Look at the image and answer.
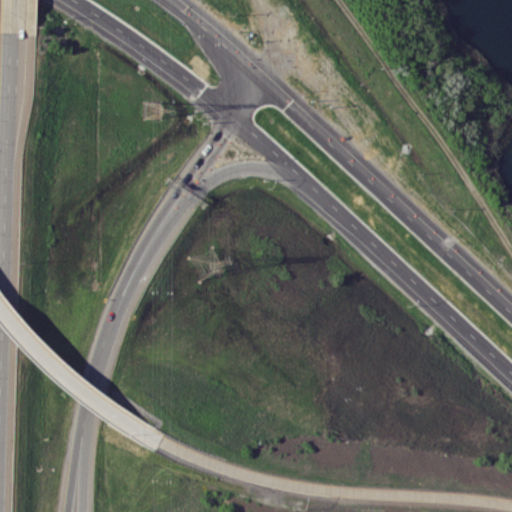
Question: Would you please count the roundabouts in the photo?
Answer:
none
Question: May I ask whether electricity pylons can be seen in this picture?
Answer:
Yes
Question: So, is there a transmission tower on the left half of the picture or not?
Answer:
Yes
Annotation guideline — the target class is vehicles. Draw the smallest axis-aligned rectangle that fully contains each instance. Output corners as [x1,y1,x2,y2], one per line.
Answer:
[182,172,194,186]
[106,310,114,323]
[212,130,223,142]
[194,156,206,169]
[201,143,214,158]
[18,28,25,40]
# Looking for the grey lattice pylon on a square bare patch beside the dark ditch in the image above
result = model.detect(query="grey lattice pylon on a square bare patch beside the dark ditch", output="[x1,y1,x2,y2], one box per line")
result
[142,101,177,122]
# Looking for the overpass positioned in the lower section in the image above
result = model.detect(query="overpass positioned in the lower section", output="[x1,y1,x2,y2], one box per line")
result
[0,290,165,451]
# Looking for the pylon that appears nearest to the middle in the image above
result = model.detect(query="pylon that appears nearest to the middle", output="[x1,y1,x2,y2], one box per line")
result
[188,246,233,284]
